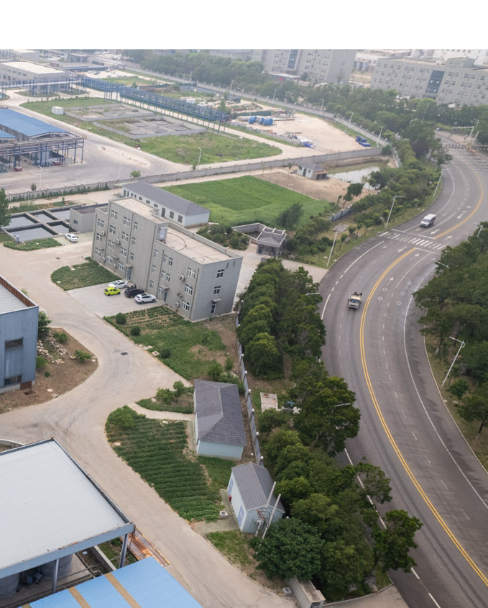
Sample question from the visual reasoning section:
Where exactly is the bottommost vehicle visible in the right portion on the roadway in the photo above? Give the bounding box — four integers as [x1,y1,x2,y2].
[349,291,364,308]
